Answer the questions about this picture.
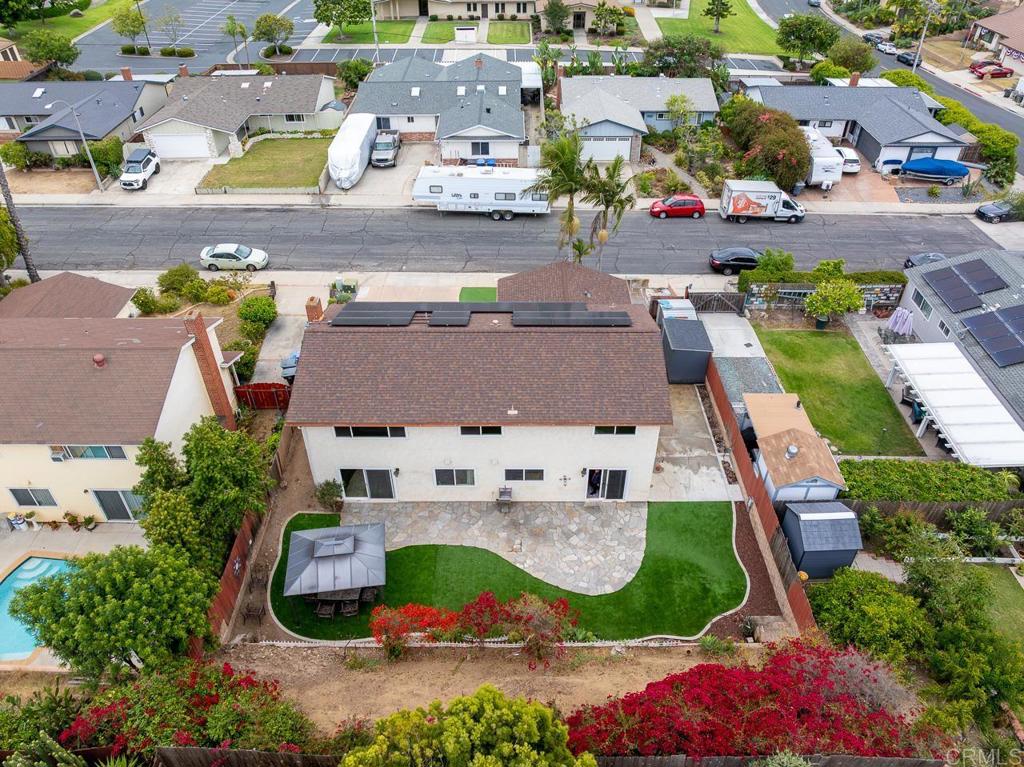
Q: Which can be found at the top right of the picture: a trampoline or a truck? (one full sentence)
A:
The one visible at the top right of the picture is a truck.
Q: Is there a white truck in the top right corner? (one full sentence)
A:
Yes, looking in the top right corner, one can make out a white truck.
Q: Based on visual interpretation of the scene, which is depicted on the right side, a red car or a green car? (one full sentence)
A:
The feature located on the right side is a red car.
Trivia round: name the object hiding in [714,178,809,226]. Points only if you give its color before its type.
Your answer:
white truck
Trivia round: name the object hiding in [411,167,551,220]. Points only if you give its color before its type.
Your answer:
white camper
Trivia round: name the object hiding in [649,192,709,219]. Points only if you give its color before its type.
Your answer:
red car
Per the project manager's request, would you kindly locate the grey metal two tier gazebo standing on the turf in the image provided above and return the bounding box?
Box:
[284,521,387,628]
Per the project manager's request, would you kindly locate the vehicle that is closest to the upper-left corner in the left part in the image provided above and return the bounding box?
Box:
[111,148,164,189]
